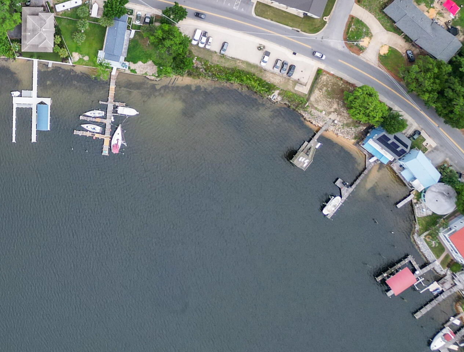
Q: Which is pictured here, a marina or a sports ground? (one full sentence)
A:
The picture captures a marina.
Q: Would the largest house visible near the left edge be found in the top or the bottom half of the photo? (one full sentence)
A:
The largest house visible near the left edge sits in the top half of the picture.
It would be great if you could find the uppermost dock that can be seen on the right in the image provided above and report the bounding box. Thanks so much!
[290,117,335,171]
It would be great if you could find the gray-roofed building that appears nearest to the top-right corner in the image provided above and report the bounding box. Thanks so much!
[381,0,462,61]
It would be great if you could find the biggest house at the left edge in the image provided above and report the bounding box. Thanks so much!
[22,8,55,53]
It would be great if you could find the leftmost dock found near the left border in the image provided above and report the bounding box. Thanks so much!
[11,59,52,142]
